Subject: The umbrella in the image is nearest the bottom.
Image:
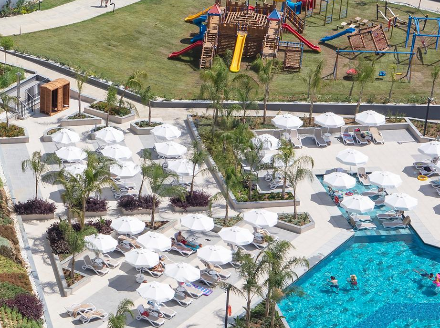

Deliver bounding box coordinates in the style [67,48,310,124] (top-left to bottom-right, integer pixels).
[135,282,173,303]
